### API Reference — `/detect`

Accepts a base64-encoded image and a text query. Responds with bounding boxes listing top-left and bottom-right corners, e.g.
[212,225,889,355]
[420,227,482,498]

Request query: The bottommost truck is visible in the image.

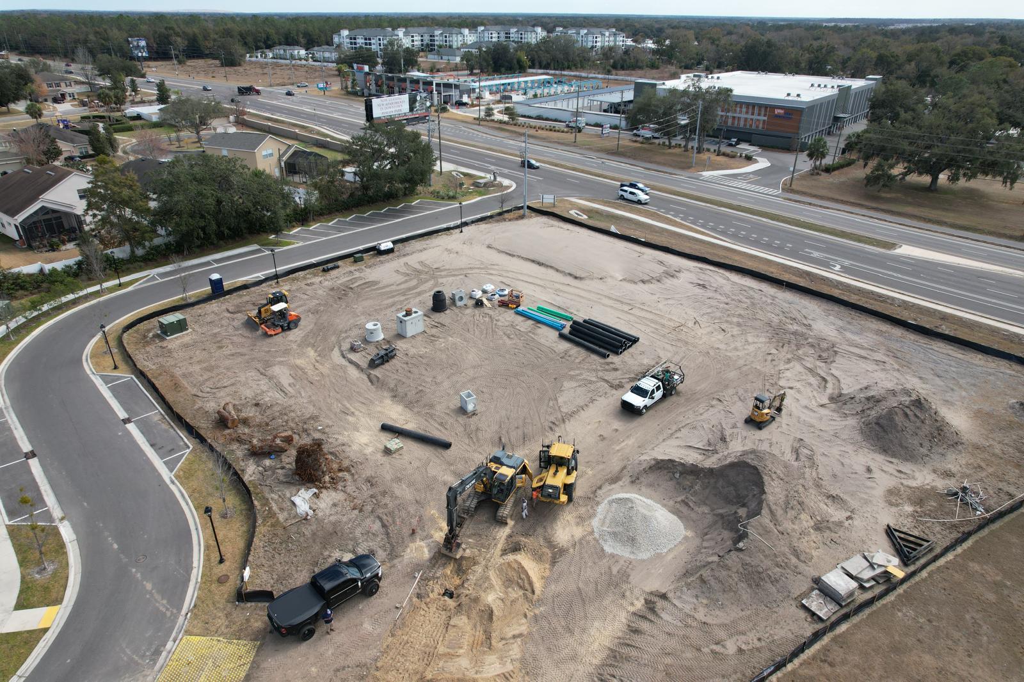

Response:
[268,554,387,642]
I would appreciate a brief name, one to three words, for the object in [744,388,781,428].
work vehicle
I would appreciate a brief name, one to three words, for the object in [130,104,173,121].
shed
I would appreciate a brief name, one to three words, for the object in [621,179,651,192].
vehicle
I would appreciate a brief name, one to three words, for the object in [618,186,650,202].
vehicle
